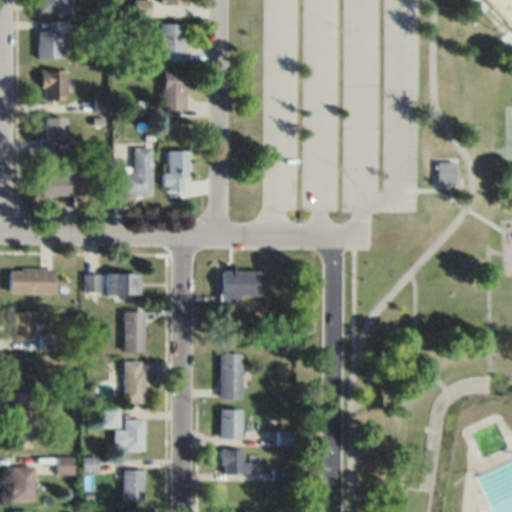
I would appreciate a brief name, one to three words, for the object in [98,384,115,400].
swimming pool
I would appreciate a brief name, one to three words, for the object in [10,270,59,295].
house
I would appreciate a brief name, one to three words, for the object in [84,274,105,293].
building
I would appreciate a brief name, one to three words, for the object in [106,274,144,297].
house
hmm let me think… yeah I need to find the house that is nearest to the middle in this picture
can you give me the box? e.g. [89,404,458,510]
[221,270,265,302]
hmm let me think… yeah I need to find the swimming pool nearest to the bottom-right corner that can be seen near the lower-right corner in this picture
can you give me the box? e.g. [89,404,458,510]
[464,414,512,512]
